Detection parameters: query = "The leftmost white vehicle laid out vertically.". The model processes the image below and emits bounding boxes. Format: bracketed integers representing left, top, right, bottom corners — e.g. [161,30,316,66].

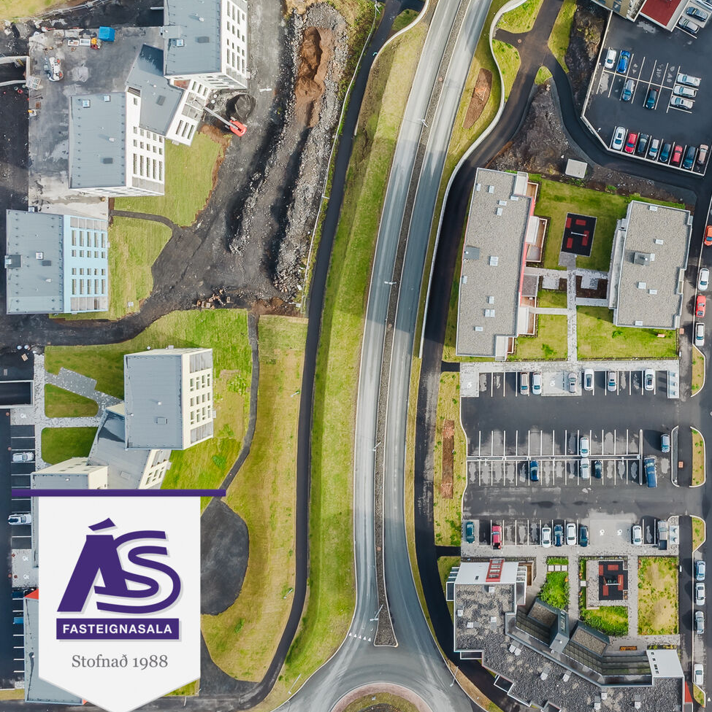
[47,54,65,83]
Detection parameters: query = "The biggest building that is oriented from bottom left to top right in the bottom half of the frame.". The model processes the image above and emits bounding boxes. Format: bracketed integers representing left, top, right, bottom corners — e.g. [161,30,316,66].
[31,350,212,568]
